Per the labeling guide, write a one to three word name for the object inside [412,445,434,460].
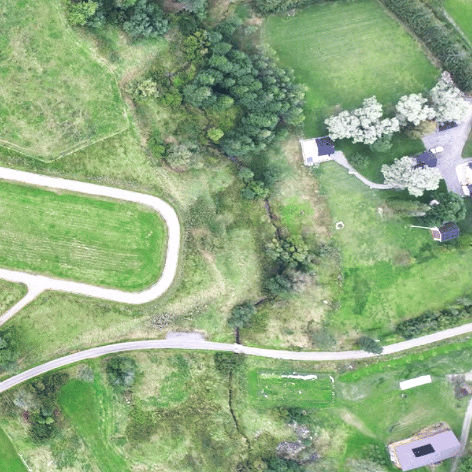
solar panel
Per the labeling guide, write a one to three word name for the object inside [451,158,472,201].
house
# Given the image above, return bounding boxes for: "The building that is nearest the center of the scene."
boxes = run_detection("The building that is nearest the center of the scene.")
[313,136,335,157]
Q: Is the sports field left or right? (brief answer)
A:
right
